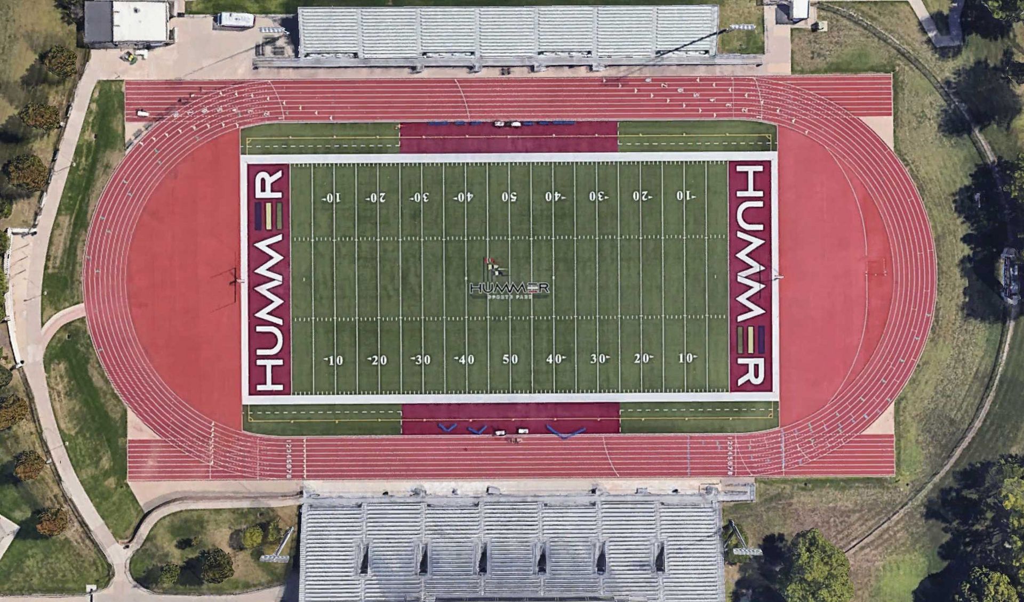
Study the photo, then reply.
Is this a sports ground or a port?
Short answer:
sports ground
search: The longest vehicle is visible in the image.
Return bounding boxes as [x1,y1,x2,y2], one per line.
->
[217,12,253,27]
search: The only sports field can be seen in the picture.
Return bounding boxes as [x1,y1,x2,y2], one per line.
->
[240,122,780,434]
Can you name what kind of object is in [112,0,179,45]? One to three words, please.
building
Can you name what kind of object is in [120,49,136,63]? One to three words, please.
vehicle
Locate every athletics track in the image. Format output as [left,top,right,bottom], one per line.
[83,76,936,480]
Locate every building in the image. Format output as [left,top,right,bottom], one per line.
[112,0,179,45]
[790,0,809,18]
